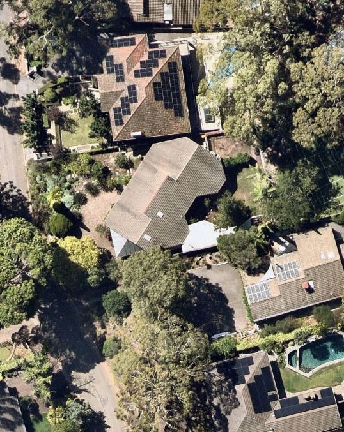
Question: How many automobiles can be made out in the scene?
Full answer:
No automobiles are visible.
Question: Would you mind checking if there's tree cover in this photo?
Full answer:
Yes, tree cover can be seen from above here.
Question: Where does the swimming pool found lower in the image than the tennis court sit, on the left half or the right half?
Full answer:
You can find the swimming pool found lower in the image than the tennis court on the right side of the picture.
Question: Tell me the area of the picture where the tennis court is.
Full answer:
You can find the tennis court in the right area of the picture.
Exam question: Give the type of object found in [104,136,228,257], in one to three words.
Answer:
house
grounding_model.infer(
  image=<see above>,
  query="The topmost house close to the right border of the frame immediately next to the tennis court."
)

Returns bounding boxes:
[245,226,344,322]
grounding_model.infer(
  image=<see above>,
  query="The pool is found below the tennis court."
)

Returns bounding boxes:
[286,328,344,376]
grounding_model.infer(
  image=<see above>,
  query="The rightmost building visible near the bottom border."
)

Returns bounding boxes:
[205,351,342,432]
